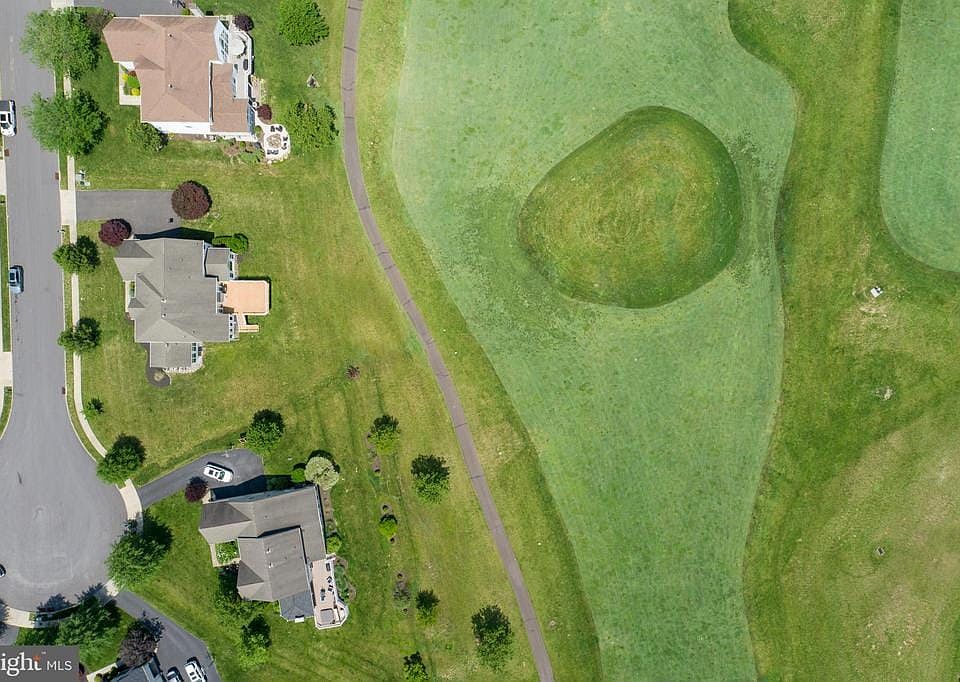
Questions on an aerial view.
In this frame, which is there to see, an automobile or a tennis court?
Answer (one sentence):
The image shows an automobile.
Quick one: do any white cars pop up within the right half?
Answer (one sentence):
No, within the right half there is no white car.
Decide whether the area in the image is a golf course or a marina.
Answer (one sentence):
This looks like a golf course.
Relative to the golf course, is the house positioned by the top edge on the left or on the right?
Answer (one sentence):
To the left of the golf course is where the house positioned by the top edge appears.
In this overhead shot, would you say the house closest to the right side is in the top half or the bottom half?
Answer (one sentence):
The house closest to the right side is in the bottom half of the image.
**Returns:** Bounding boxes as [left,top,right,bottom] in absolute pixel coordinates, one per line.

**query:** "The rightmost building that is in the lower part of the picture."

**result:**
[199,484,348,633]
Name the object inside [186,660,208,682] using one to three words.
car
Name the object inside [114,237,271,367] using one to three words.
house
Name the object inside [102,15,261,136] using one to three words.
house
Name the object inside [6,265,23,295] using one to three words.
car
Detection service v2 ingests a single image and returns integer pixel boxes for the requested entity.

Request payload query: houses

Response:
[199,484,348,633]
[102,15,261,136]
[109,658,164,682]
[114,237,271,367]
